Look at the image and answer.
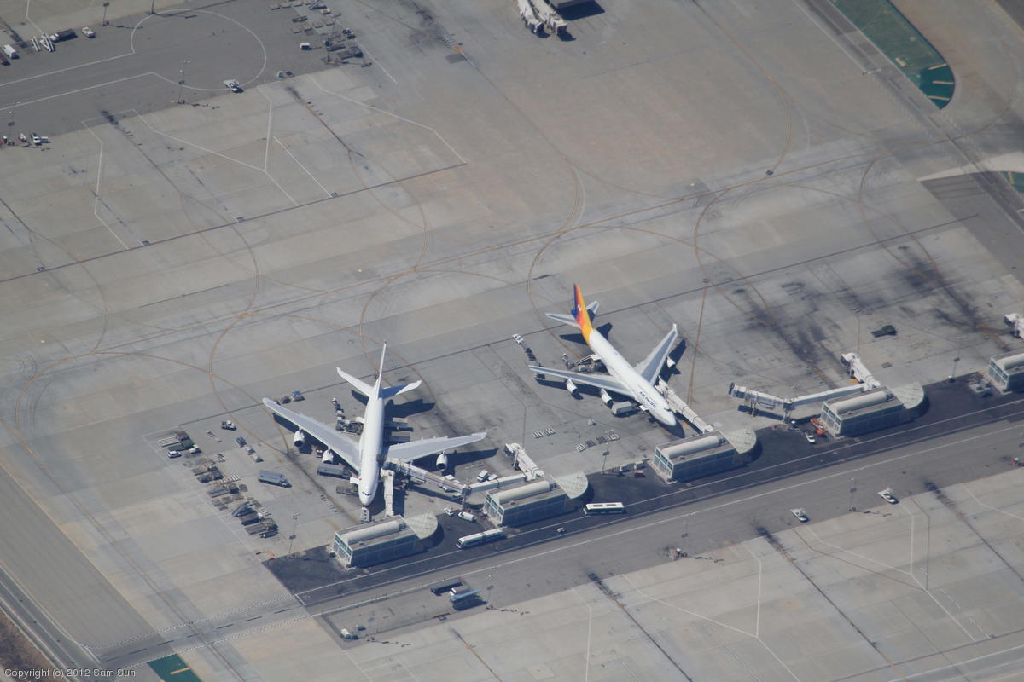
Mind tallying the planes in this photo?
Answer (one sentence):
Looking from above, you can make out 2 planes.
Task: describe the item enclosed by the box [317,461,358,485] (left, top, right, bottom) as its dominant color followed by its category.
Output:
gray truck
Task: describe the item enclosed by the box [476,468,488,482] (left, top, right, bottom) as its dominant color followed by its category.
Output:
white vehicle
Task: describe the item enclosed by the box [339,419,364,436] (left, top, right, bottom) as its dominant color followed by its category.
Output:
gray work vehicle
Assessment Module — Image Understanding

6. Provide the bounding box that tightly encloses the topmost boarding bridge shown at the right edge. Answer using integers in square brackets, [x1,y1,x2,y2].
[998,314,1024,348]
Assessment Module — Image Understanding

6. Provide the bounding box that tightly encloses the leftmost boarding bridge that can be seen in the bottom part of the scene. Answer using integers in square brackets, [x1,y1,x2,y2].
[378,467,402,518]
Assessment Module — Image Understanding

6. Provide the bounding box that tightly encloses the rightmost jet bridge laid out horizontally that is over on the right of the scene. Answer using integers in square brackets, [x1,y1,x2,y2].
[724,384,873,423]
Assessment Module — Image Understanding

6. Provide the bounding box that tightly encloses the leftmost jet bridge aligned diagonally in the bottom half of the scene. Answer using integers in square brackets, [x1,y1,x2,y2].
[500,444,541,484]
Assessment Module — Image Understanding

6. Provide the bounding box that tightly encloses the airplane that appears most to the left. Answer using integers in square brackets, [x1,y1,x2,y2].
[263,343,488,509]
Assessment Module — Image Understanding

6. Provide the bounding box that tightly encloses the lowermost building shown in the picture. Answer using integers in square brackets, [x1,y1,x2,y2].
[327,509,434,568]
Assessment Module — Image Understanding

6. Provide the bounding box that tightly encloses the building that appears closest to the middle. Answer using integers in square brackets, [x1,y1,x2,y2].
[477,469,583,528]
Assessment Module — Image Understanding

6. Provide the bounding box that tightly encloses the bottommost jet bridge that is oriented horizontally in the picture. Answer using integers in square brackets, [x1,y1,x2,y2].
[377,456,544,510]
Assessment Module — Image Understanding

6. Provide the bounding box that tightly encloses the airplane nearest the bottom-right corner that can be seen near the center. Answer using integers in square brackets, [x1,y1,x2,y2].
[523,283,681,426]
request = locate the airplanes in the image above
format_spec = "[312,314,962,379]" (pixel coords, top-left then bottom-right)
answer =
[263,343,488,509]
[523,283,681,426]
